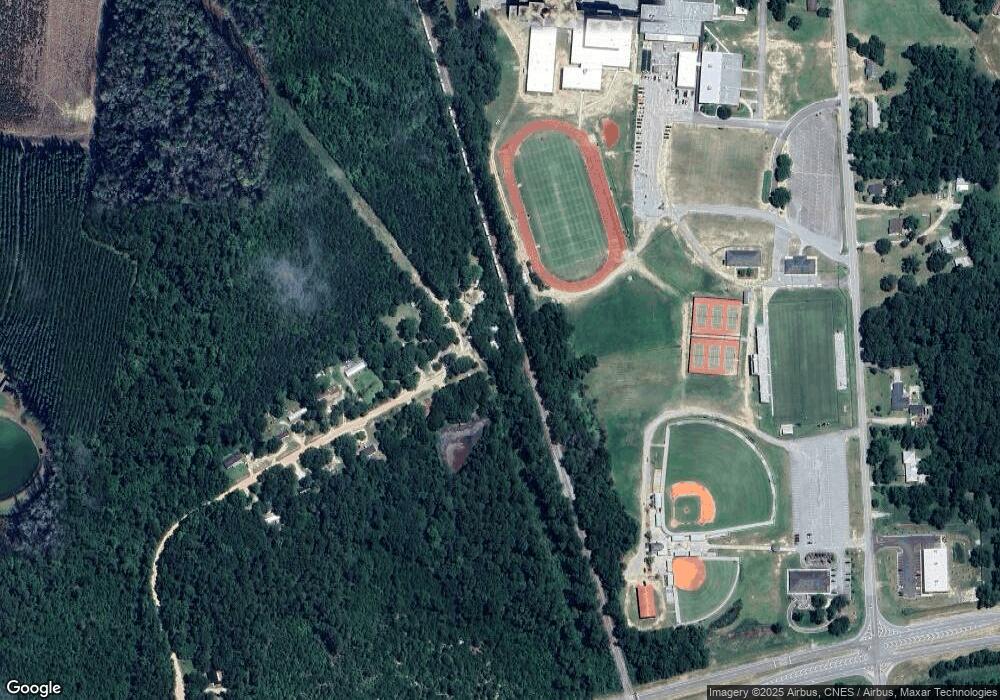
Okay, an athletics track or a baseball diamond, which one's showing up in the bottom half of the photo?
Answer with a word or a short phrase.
baseball diamond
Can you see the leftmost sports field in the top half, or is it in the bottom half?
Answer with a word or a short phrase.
top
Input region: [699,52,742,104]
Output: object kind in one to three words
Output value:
building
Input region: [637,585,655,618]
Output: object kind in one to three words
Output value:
barn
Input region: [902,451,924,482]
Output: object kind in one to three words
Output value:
house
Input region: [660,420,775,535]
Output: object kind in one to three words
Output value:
baseball field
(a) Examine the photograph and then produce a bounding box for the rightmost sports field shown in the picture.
[768,289,858,437]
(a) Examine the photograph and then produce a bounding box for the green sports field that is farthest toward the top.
[515,131,608,281]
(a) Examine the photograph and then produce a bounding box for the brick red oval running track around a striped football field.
[498,119,628,293]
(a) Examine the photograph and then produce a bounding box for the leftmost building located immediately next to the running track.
[526,27,557,94]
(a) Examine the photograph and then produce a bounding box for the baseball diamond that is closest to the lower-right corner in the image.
[674,556,740,625]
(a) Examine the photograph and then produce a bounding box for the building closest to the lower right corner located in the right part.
[924,549,947,593]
